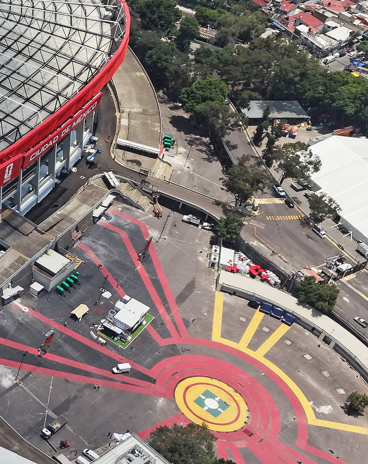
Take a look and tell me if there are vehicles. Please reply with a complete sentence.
Yes, the photo shows a vehicle.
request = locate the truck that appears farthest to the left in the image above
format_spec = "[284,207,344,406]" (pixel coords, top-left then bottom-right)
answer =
[37,419,63,440]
